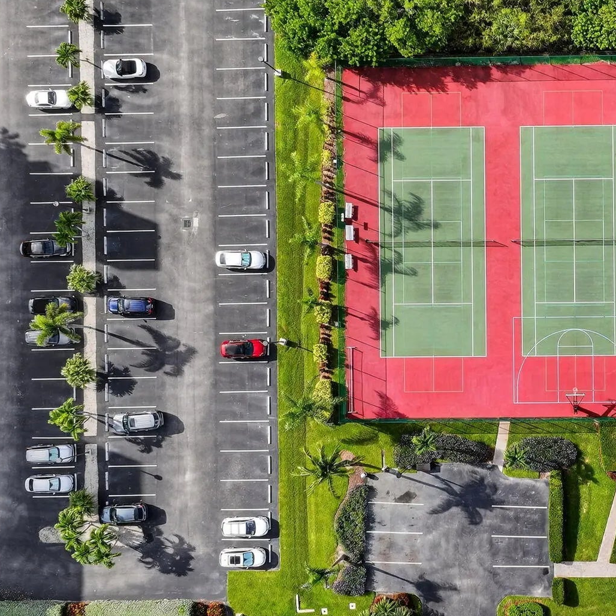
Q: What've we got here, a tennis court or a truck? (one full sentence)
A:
This aerial view contains a tennis court.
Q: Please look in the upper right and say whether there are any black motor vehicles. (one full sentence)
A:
No, looking in the upper right, there is no black motor vehicle.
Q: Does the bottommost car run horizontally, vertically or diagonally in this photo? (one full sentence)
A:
In this picture, the bottommost car is oriented horizontally.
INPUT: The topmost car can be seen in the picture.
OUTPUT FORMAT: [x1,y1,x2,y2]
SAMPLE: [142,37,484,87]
[103,58,147,80]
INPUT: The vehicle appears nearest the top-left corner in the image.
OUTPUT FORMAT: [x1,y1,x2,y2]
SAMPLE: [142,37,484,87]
[25,89,76,110]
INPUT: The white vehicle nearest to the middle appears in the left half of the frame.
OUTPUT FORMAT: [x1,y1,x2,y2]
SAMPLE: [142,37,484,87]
[217,249,267,271]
